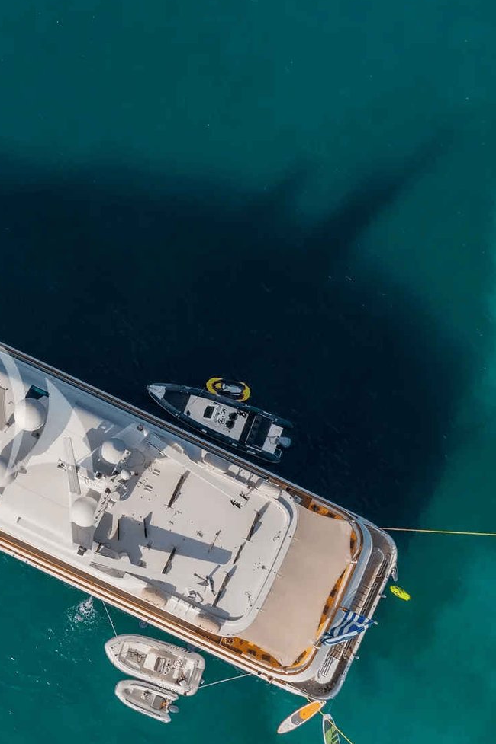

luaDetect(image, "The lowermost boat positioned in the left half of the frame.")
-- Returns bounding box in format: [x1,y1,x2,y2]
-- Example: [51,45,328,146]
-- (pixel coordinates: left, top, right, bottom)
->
[113,682,180,721]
